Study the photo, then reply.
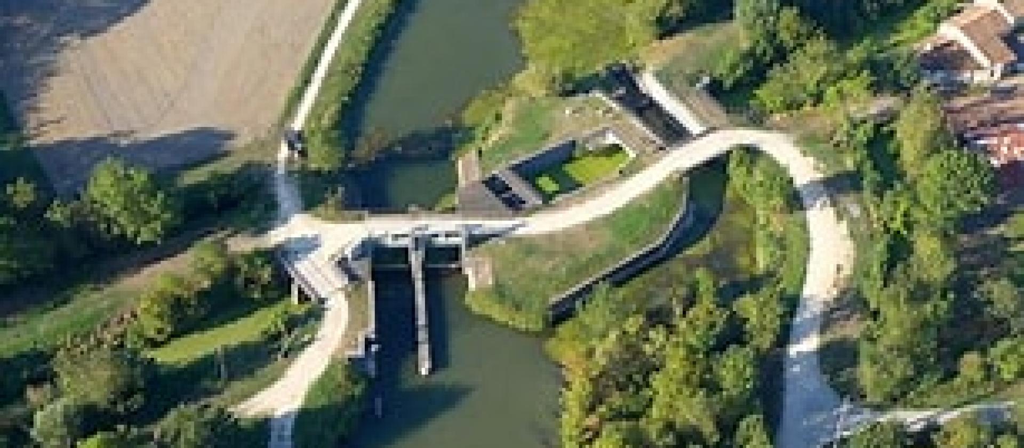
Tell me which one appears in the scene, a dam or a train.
dam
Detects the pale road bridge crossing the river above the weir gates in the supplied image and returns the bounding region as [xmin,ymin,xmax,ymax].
[368,216,471,244]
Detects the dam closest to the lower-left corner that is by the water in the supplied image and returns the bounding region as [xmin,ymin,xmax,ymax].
[372,231,465,289]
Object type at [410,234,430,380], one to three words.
pier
